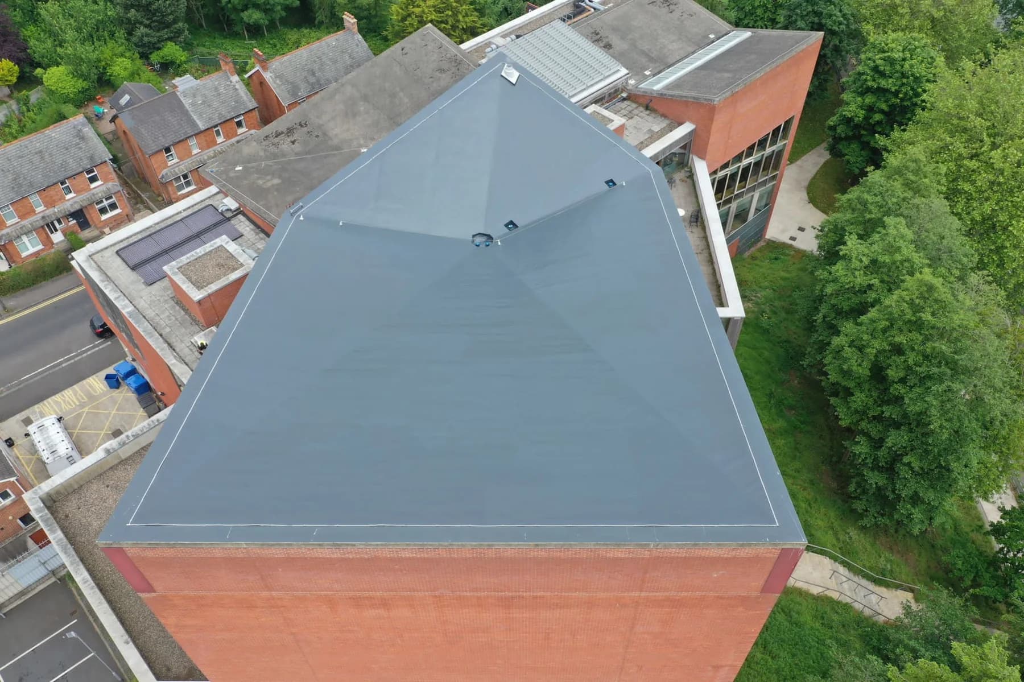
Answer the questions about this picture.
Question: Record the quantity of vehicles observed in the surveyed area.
2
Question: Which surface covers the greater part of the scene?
buildings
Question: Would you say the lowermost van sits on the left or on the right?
left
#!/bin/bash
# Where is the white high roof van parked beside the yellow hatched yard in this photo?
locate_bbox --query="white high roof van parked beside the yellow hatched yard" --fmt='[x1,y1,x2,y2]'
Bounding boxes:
[24,414,86,480]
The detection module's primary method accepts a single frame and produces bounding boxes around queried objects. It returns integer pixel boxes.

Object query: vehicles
[24,414,86,480]
[88,307,115,336]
